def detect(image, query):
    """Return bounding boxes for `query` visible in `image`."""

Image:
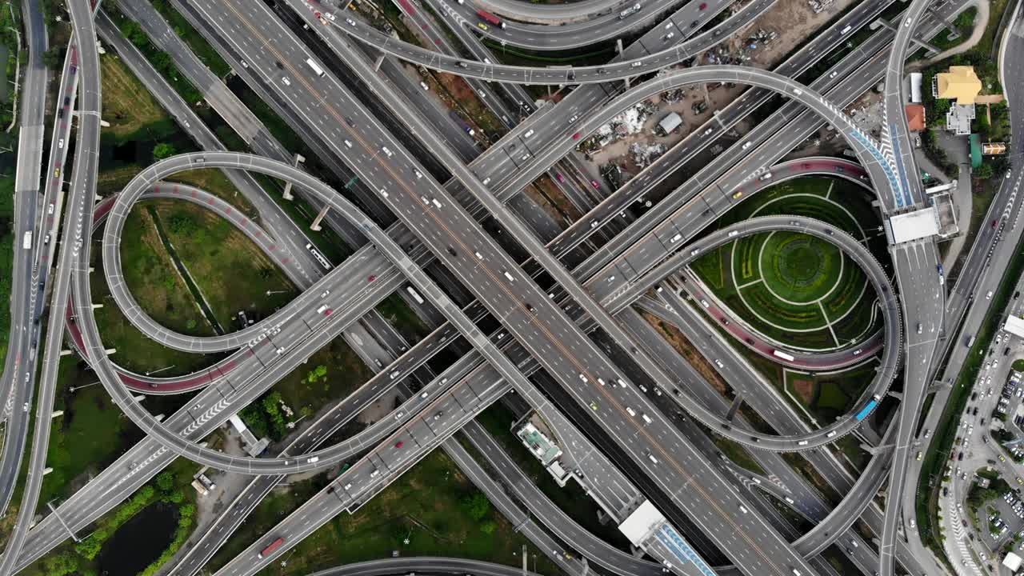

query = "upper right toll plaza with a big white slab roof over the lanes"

[885,200,940,253]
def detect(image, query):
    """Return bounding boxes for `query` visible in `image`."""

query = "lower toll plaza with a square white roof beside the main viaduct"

[612,491,670,548]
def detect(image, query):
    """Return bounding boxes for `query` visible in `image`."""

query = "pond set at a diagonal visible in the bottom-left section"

[98,503,180,576]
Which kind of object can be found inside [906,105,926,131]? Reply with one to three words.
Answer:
house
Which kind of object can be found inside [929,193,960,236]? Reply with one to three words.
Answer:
building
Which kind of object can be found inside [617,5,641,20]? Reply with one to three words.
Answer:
vehicle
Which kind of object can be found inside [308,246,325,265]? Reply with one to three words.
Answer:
vehicle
